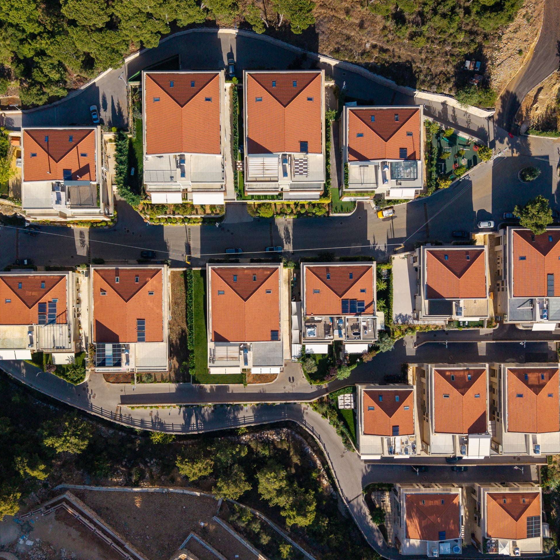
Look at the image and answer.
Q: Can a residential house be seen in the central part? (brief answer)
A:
Yes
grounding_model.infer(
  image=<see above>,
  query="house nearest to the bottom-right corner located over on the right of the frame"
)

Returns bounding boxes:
[465,478,543,557]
